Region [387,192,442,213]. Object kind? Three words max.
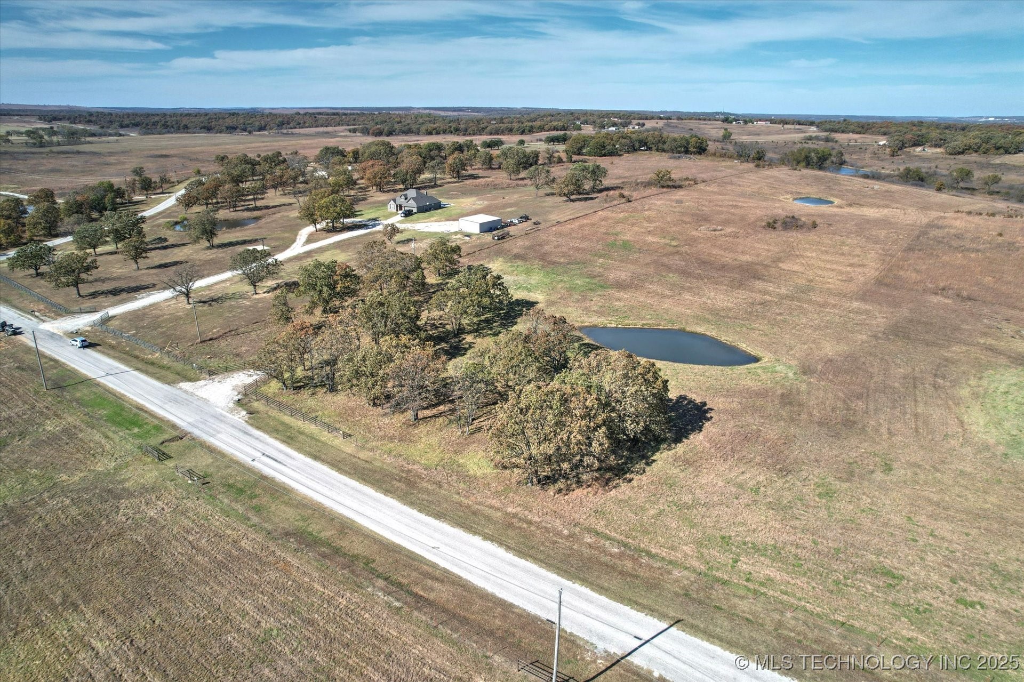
house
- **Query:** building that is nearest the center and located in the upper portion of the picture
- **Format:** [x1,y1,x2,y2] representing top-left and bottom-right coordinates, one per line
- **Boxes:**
[458,215,502,234]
